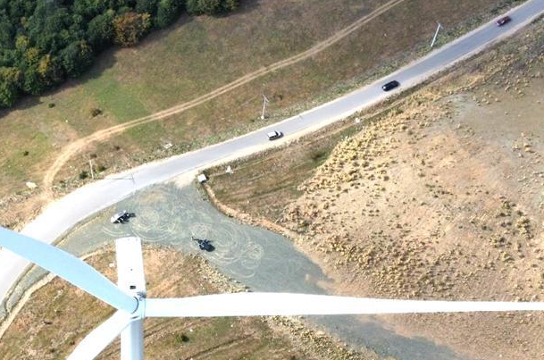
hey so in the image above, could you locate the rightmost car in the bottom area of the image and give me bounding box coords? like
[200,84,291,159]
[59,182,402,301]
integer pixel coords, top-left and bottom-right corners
[192,236,211,252]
